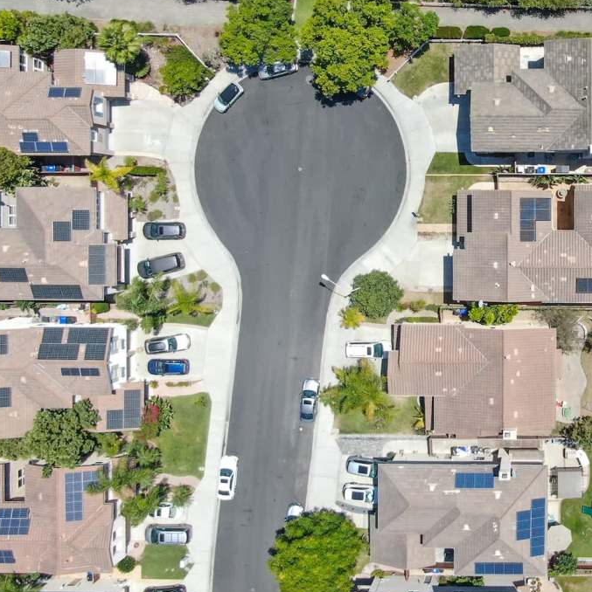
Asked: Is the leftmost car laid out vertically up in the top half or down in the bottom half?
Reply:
bottom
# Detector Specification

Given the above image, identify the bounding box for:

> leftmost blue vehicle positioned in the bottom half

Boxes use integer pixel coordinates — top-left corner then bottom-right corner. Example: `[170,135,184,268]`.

[147,357,191,377]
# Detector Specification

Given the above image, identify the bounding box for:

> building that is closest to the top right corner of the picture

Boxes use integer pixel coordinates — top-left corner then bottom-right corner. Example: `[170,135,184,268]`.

[455,31,592,162]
